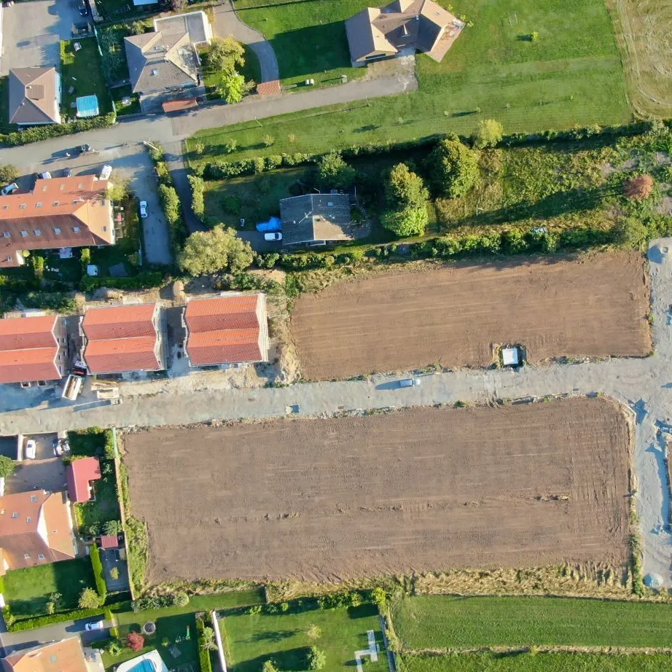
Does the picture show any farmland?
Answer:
Yes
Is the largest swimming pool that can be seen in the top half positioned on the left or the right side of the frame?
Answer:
left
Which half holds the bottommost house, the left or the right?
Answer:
left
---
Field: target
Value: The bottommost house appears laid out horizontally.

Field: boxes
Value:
[2,634,96,672]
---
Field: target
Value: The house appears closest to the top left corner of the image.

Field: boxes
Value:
[10,68,62,126]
